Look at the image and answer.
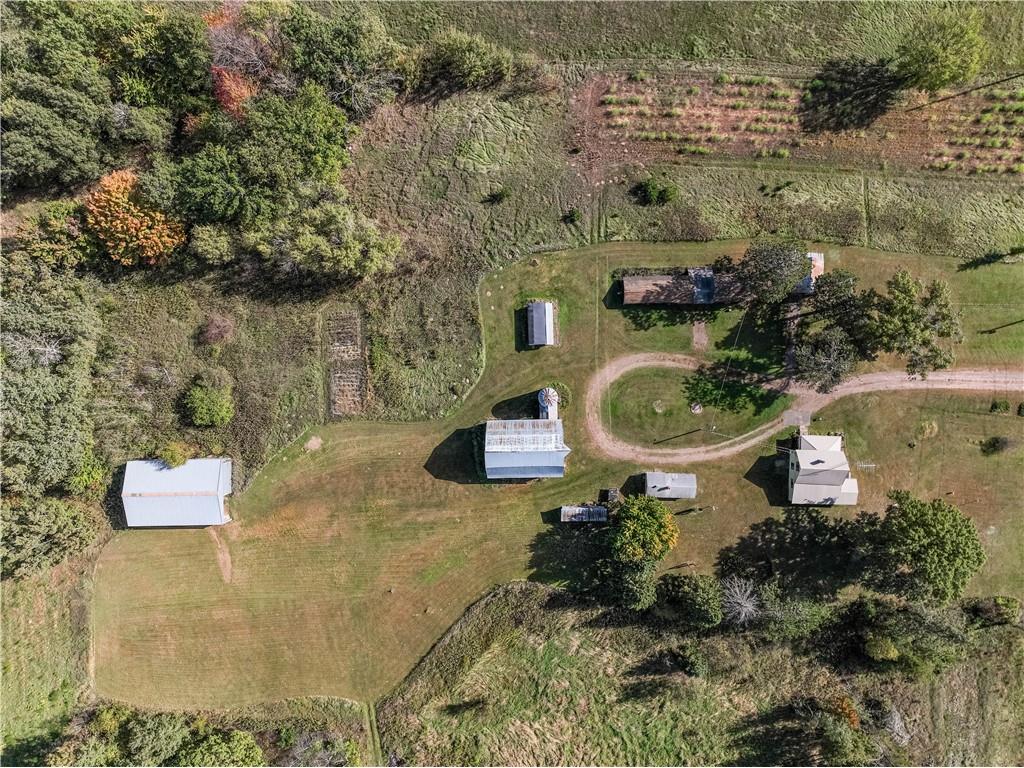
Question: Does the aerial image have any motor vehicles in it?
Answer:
No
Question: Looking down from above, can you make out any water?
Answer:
No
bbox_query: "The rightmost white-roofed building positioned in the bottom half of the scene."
[779,435,859,505]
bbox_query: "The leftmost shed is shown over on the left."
[122,459,236,526]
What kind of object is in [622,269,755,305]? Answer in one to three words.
shed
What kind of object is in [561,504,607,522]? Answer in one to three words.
shed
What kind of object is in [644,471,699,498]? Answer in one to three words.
building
